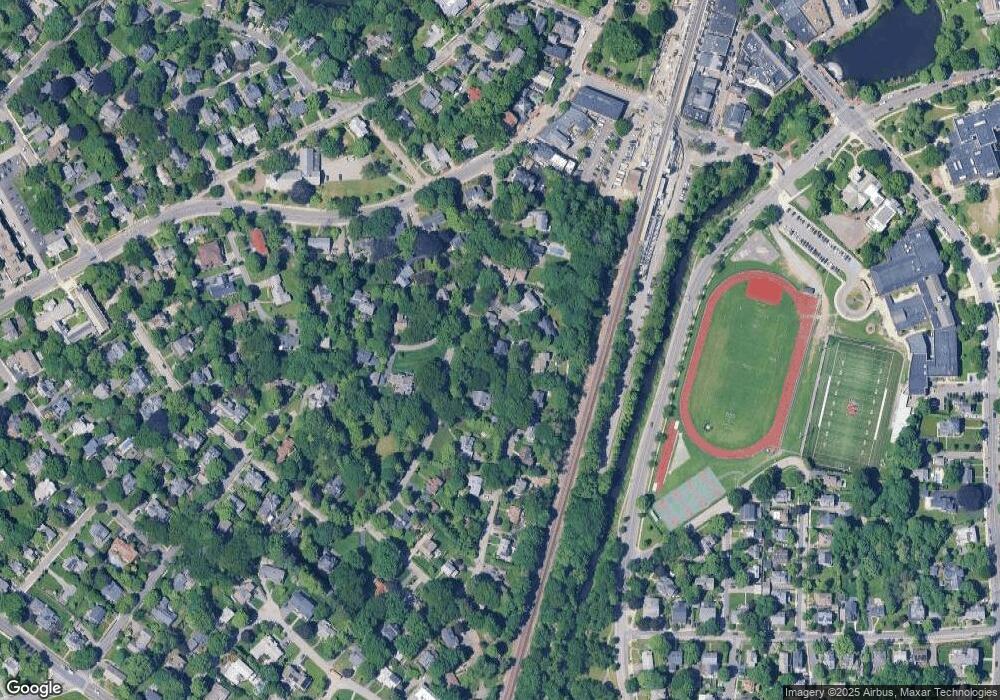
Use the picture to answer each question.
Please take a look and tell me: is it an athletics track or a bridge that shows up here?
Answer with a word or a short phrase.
athletics track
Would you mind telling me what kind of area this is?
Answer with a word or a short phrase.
residential area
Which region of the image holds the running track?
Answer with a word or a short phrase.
right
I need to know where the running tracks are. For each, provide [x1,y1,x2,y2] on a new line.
[682,268,820,460]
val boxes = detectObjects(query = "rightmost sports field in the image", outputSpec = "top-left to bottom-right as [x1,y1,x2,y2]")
[806,336,904,474]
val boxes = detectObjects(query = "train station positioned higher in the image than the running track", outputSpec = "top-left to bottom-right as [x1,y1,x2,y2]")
[633,2,714,242]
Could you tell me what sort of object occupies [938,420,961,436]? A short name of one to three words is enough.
house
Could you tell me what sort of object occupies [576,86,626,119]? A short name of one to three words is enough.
building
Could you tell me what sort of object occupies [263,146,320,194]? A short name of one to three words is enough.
building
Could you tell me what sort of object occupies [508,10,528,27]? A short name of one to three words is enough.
house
